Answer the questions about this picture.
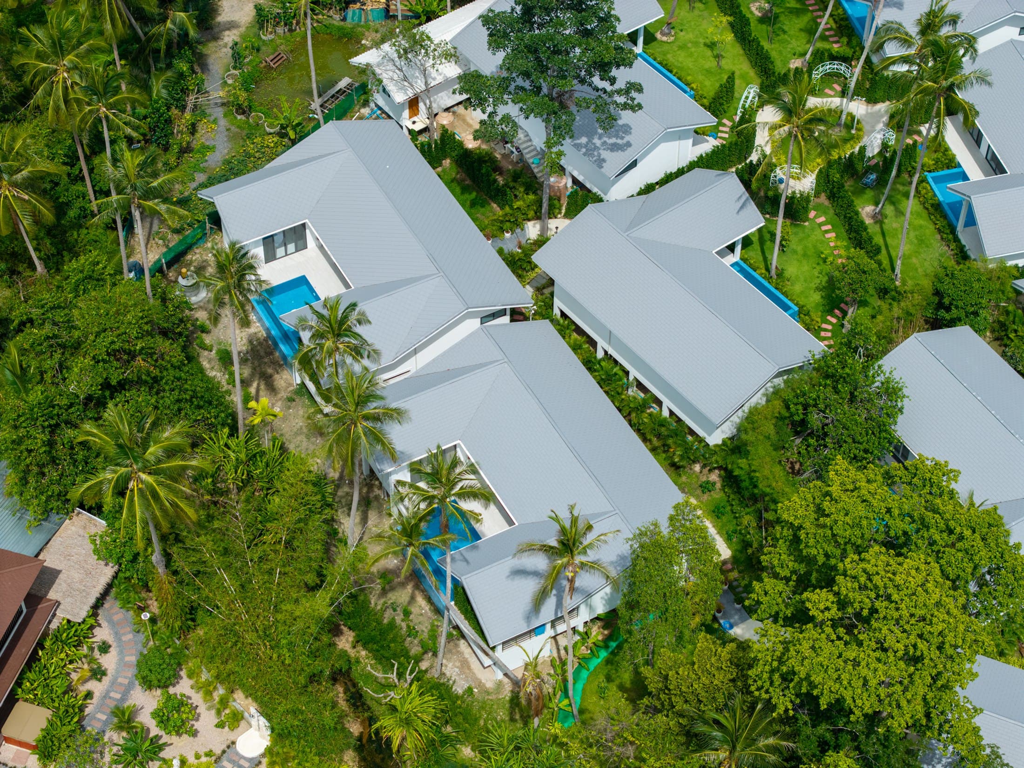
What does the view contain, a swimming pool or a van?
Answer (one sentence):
Of the two, only a swimming pool appears.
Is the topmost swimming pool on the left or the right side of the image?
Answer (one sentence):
The topmost swimming pool appears in the right half of the scene.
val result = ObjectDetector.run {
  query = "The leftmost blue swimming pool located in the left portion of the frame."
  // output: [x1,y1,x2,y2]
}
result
[251,273,322,392]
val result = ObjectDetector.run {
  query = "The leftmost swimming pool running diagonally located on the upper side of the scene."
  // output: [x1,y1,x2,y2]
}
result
[637,53,702,106]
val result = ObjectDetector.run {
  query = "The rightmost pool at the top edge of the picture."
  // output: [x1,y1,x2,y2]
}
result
[824,0,878,66]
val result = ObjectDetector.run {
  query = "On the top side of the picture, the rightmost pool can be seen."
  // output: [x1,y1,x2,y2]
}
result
[916,166,977,255]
